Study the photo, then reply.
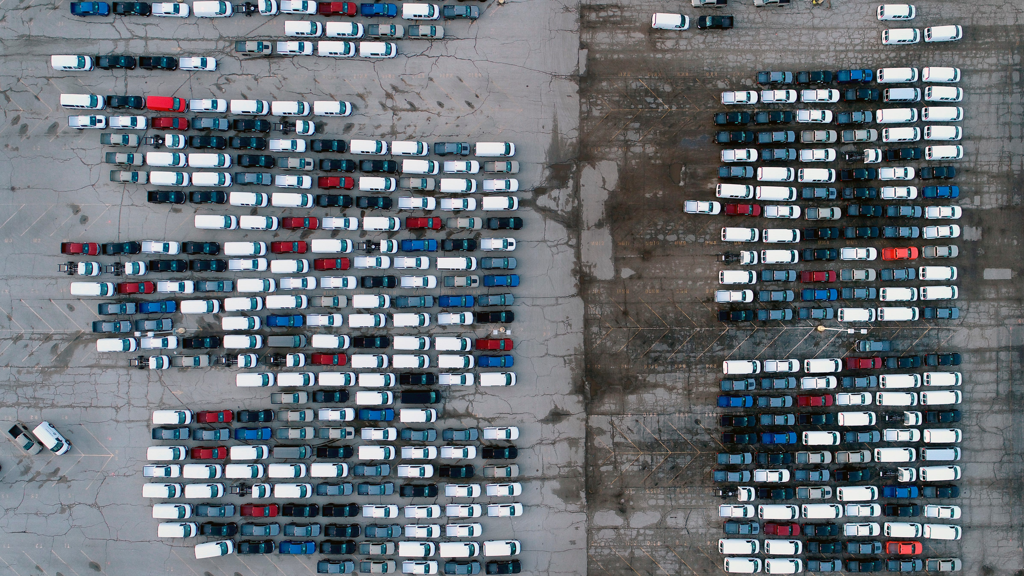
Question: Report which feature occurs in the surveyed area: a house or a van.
van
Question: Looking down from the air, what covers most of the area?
paved ground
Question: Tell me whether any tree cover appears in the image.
No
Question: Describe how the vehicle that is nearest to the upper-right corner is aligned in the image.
horizontally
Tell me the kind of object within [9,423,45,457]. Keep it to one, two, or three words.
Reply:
truck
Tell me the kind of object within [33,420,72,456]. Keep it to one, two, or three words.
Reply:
van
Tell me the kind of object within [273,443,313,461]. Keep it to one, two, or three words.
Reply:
vehicle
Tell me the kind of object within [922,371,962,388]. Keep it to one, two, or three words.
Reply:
vehicle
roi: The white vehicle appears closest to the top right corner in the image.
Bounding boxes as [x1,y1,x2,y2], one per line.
[922,23,963,43]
